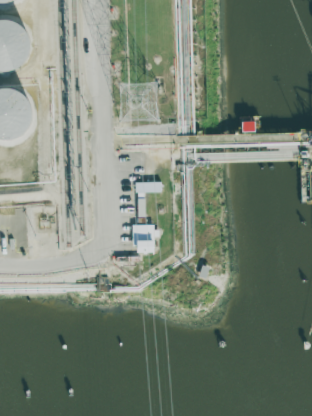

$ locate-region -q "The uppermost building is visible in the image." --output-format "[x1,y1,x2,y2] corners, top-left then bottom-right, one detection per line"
[240,114,261,132]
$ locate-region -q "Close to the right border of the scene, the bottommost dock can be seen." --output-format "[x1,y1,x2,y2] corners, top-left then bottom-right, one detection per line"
[224,148,300,162]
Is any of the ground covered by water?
Yes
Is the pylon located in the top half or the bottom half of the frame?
top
